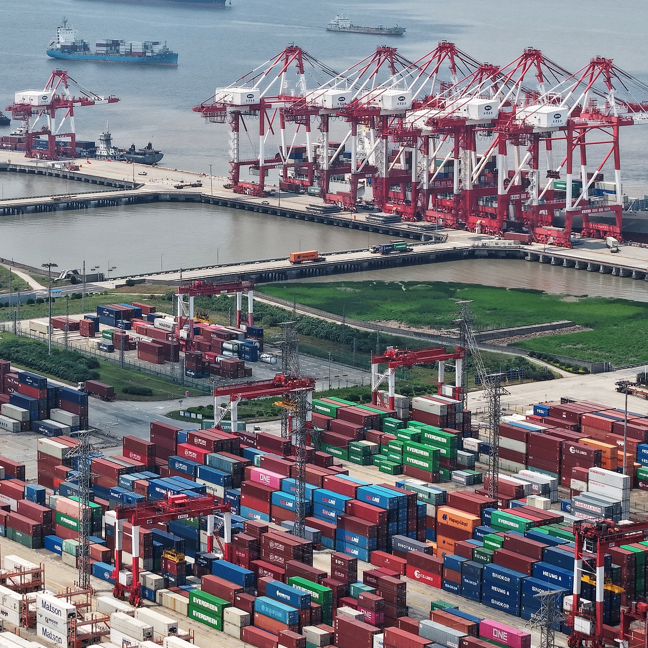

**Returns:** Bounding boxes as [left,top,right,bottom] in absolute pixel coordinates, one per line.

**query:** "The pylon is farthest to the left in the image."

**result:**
[59,422,108,590]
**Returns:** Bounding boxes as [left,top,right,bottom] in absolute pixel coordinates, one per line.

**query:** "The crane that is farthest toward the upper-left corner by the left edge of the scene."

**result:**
[7,72,114,158]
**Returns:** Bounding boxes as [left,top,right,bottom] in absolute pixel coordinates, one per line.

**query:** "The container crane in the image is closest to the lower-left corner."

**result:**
[106,491,241,610]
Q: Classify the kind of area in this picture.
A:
port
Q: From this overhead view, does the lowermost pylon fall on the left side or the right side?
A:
right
